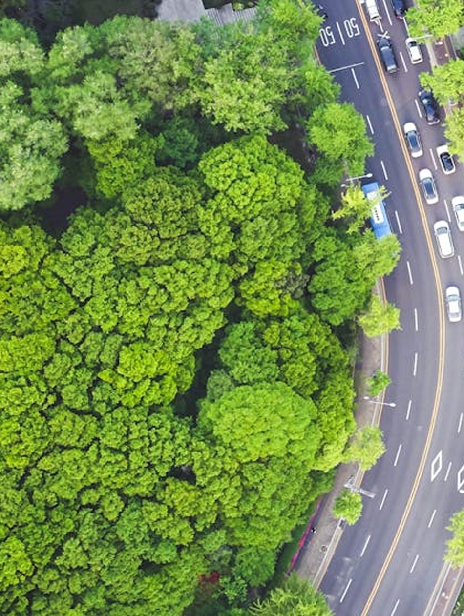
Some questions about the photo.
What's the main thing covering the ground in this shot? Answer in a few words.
trees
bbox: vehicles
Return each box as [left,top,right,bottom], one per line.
[376,37,397,75]
[436,141,457,178]
[434,220,455,259]
[419,168,439,206]
[402,121,424,159]
[418,89,441,127]
[405,36,424,68]
[361,0,383,25]
[444,284,463,322]
[451,195,464,233]
[390,0,409,22]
